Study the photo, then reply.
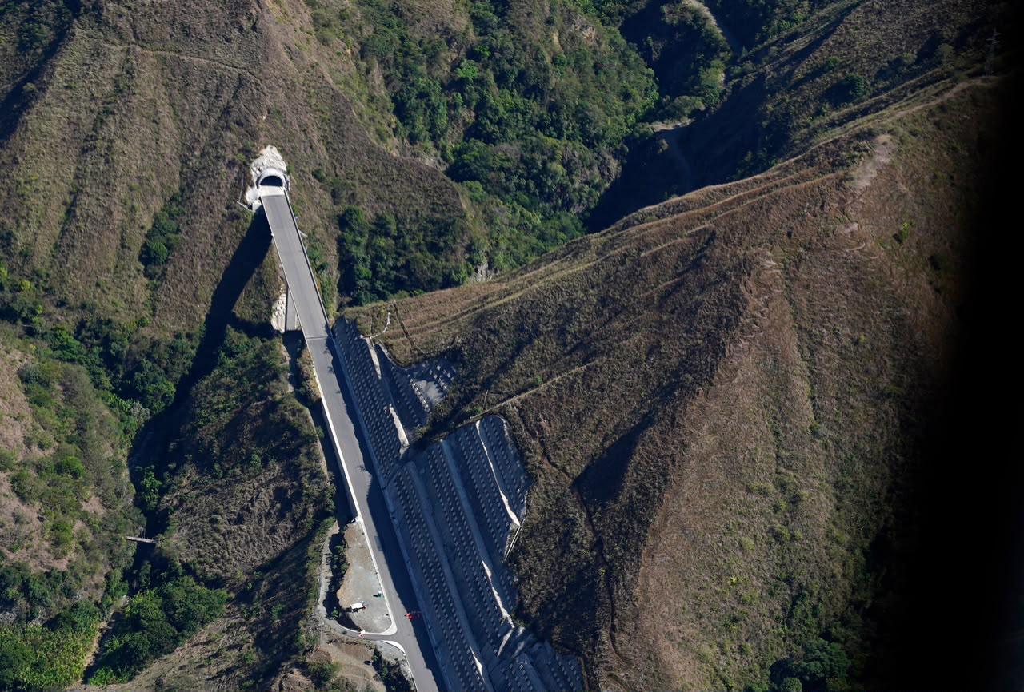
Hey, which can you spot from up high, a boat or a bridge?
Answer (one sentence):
There is a bridge in the scene.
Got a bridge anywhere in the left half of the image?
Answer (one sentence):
Yes, there is a bridge in the left half of the image.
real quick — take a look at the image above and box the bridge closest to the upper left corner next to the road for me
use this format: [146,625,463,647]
[260,194,335,363]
